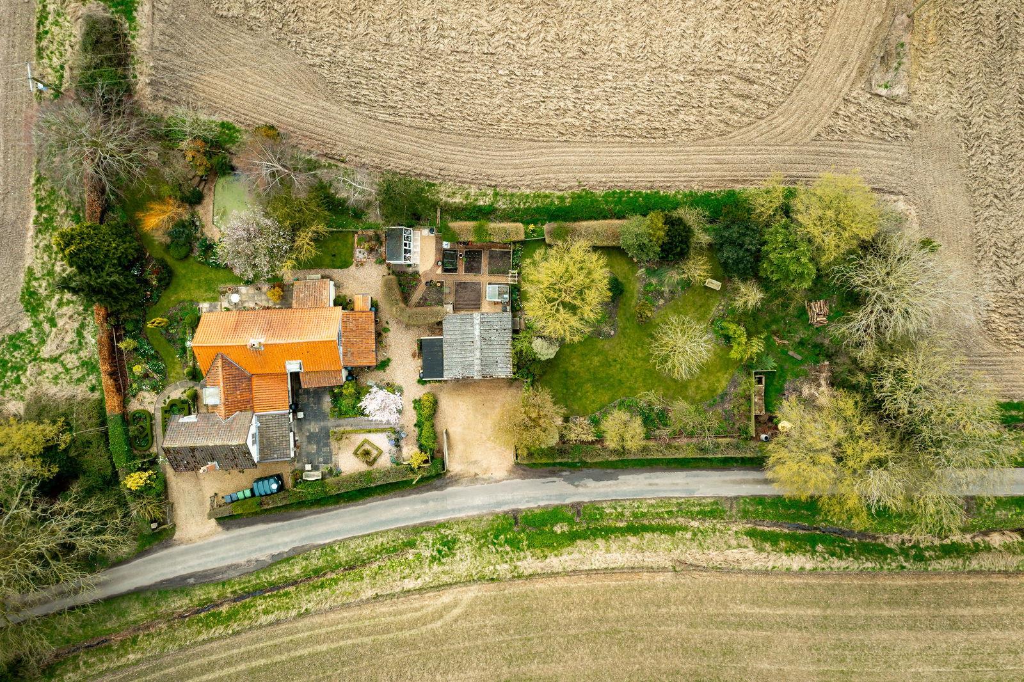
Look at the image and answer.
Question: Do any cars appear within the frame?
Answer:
No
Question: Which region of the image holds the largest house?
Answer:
left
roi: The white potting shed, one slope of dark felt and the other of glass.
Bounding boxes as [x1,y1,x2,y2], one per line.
[385,225,414,264]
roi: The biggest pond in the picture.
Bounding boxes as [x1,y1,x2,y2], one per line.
[214,175,265,238]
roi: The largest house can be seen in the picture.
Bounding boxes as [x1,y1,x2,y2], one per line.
[161,278,378,475]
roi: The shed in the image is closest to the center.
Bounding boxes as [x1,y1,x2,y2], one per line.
[419,313,513,380]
